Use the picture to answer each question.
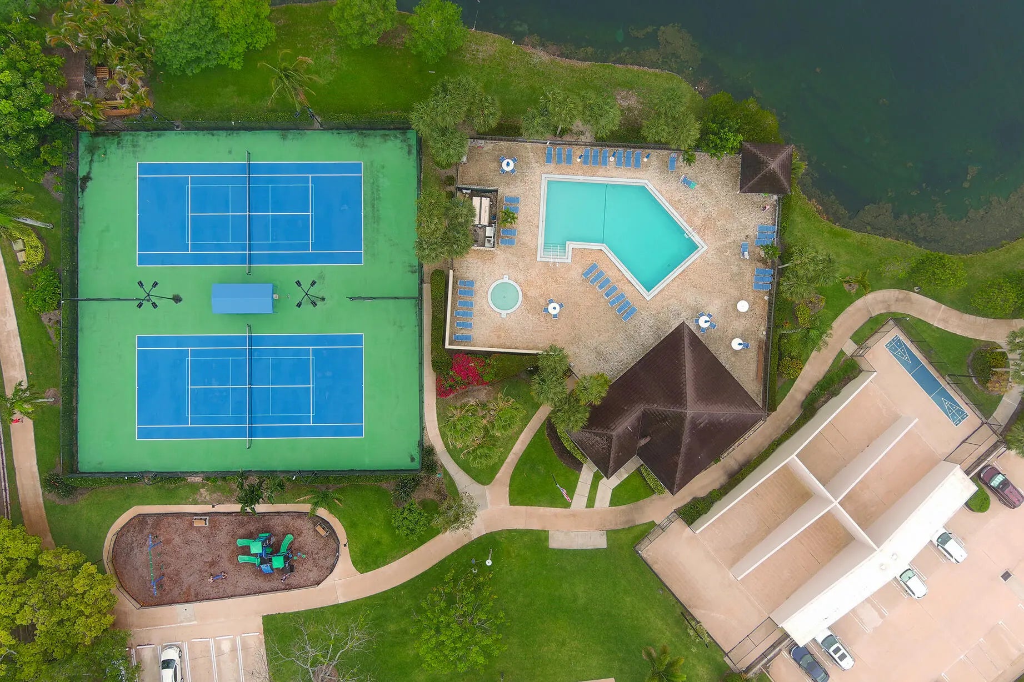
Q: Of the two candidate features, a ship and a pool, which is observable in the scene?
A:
pool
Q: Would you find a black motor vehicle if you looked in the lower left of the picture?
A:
No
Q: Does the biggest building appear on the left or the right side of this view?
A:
right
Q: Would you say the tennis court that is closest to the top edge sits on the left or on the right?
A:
left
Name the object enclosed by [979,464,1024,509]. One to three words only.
car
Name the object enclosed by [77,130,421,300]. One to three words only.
tennis court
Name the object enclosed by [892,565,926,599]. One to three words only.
car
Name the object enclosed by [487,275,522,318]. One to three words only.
swimming pool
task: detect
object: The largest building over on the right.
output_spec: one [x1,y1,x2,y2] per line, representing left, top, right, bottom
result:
[565,321,768,496]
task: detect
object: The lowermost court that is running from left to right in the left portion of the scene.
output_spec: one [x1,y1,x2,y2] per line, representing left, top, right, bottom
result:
[77,300,422,472]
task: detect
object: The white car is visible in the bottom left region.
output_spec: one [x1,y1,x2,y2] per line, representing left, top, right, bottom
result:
[158,647,184,682]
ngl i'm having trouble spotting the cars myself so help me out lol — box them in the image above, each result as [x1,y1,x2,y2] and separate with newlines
[792,644,833,682]
[158,647,184,682]
[979,464,1024,509]
[813,628,855,671]
[892,565,926,599]
[929,526,967,564]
